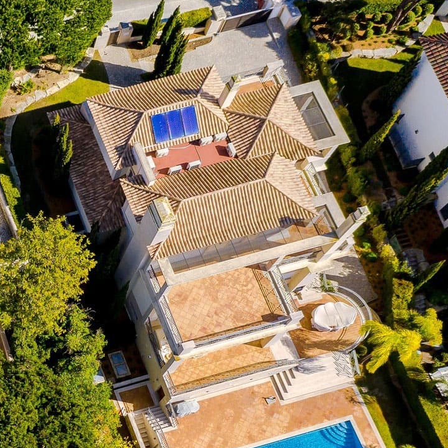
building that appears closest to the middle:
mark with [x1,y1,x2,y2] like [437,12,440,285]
[49,59,368,401]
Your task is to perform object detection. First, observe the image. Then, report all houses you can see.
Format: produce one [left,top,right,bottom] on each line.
[393,30,448,236]
[49,59,368,401]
